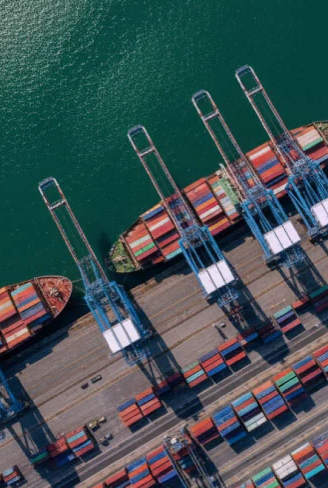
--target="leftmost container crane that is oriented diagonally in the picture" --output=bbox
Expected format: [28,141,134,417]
[35,174,167,362]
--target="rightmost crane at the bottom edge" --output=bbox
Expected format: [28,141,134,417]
[152,418,222,488]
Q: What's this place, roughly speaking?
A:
port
